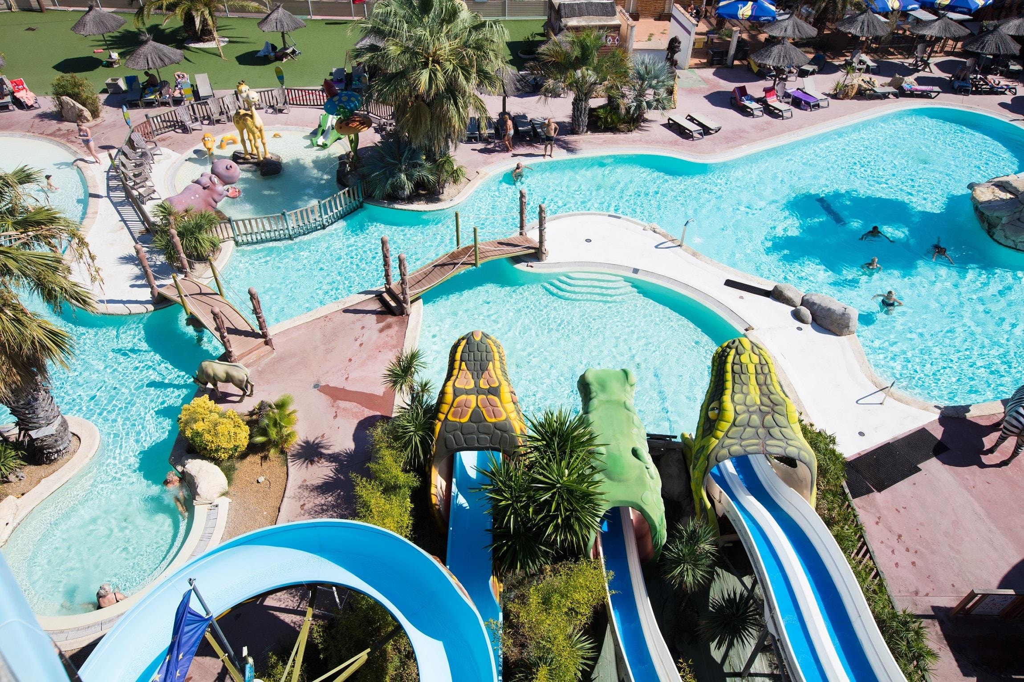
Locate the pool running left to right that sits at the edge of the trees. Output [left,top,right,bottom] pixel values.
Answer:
[0,109,1024,615]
